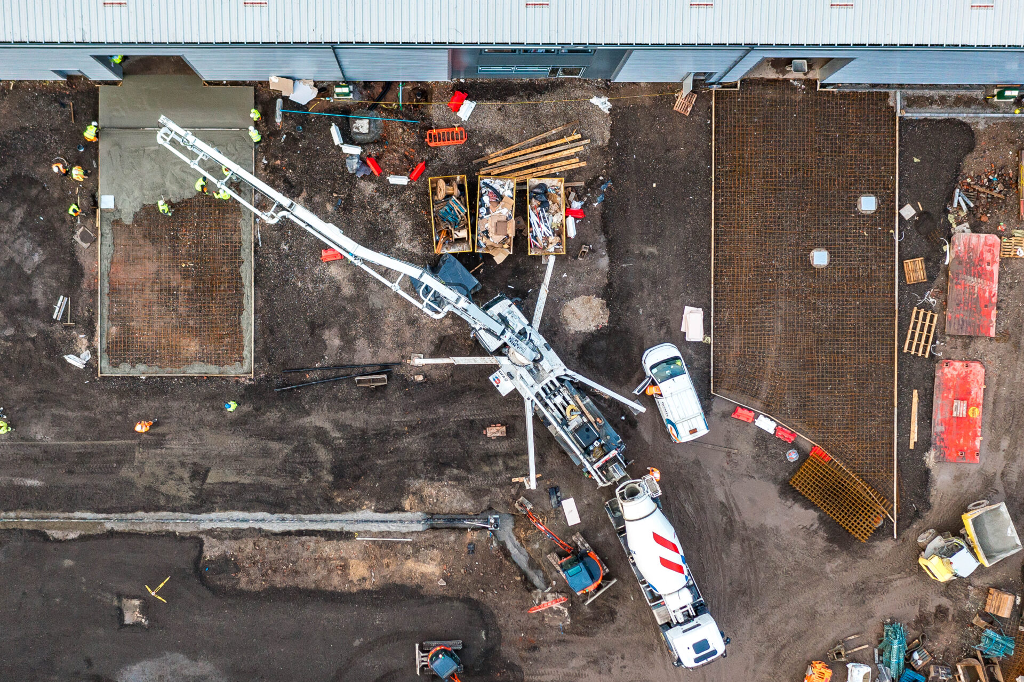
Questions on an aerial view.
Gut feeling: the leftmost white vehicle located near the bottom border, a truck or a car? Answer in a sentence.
What you see as the leftmost white vehicle located near the bottom border is a truck.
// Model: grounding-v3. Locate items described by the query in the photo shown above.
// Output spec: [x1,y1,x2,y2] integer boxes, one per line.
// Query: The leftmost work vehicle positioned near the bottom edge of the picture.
[415,637,460,682]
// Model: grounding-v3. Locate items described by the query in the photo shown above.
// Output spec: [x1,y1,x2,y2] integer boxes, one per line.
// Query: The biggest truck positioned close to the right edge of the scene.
[911,495,1022,582]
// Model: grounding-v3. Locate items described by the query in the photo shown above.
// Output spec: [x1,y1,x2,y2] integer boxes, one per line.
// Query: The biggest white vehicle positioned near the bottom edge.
[603,465,729,675]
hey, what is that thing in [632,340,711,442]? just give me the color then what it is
white van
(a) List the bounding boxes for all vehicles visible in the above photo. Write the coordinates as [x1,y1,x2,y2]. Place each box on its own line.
[632,340,711,442]
[156,116,646,489]
[911,495,1022,582]
[415,637,460,682]
[603,465,729,675]
[518,492,617,605]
